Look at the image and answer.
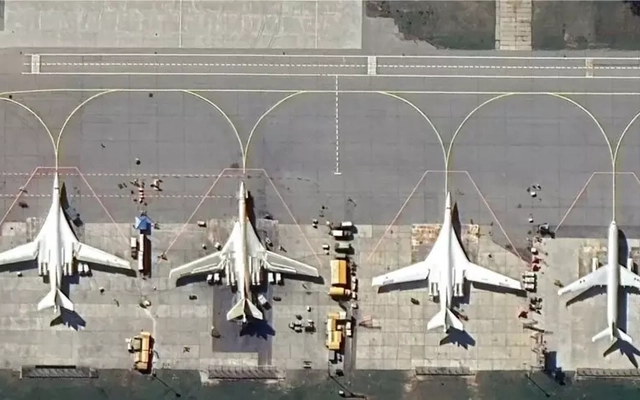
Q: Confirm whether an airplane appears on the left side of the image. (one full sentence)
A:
Yes, an airplane appears on the left side of the image.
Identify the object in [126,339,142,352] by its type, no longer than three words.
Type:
vehicle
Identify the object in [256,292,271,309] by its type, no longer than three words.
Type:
vehicle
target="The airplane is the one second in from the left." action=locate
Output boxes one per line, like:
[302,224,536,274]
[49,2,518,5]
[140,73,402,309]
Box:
[168,179,318,320]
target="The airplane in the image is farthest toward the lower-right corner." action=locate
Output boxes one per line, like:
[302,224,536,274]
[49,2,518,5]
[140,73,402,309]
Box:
[558,222,640,344]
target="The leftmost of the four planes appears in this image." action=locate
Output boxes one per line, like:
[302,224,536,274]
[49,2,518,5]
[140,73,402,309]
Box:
[0,172,130,311]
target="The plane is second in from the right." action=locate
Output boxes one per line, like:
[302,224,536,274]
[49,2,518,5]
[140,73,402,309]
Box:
[372,192,521,331]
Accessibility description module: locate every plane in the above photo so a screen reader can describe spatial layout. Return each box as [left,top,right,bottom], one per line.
[0,172,130,311]
[558,222,640,344]
[372,192,521,331]
[168,179,318,320]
